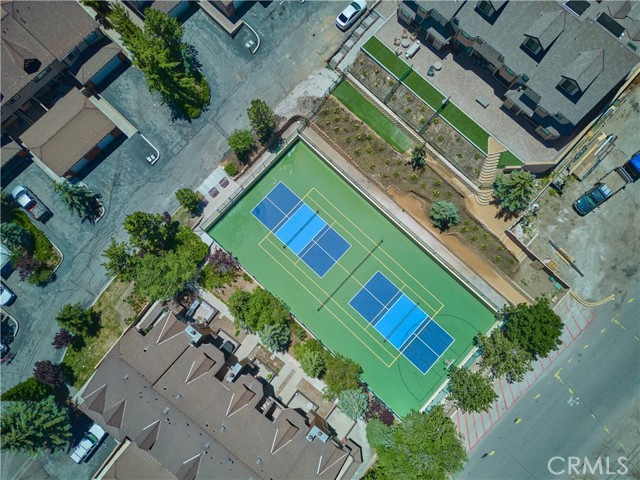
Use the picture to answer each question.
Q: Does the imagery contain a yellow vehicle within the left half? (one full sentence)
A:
No, there is no yellow vehicle within the left half.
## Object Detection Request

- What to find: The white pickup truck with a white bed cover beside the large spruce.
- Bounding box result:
[64,420,109,469]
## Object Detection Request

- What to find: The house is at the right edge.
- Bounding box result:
[394,0,640,148]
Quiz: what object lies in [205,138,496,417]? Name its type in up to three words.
sports court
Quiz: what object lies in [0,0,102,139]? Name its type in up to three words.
house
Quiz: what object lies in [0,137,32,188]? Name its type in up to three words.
building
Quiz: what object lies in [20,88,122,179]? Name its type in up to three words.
building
